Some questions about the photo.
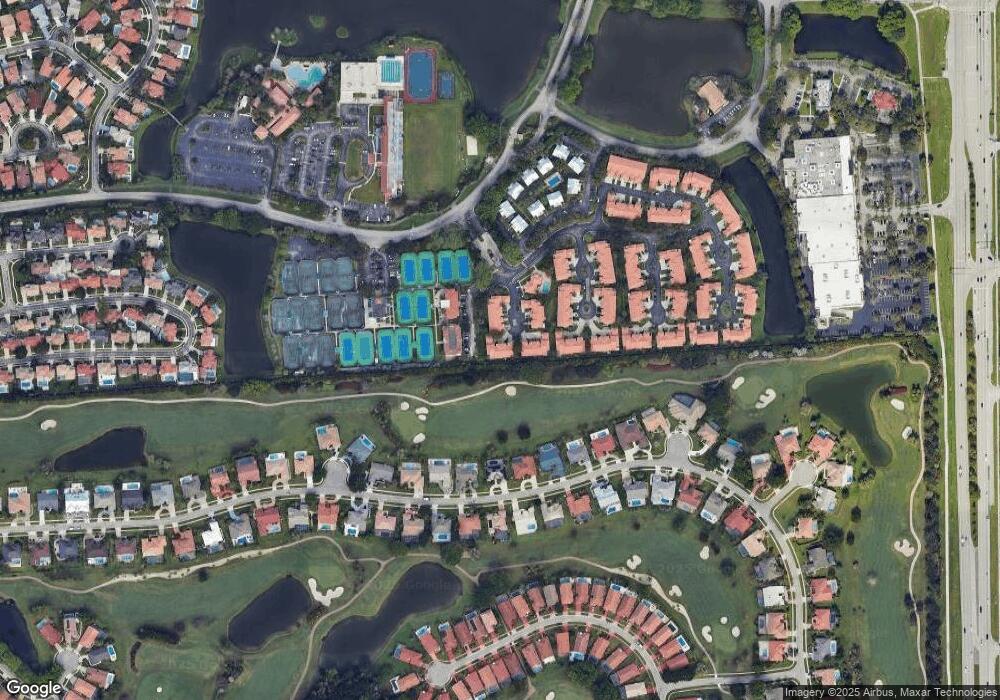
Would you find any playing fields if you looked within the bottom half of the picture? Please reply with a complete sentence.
No, no playing field can be made out within the bottom half of the picture.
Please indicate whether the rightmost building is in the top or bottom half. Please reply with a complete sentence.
It is in the top half that the rightmost building appears.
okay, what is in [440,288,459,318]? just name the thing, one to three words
building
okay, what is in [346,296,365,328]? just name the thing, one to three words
tennis court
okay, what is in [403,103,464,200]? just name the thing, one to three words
sports field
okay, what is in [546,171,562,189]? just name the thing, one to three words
swimming pool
